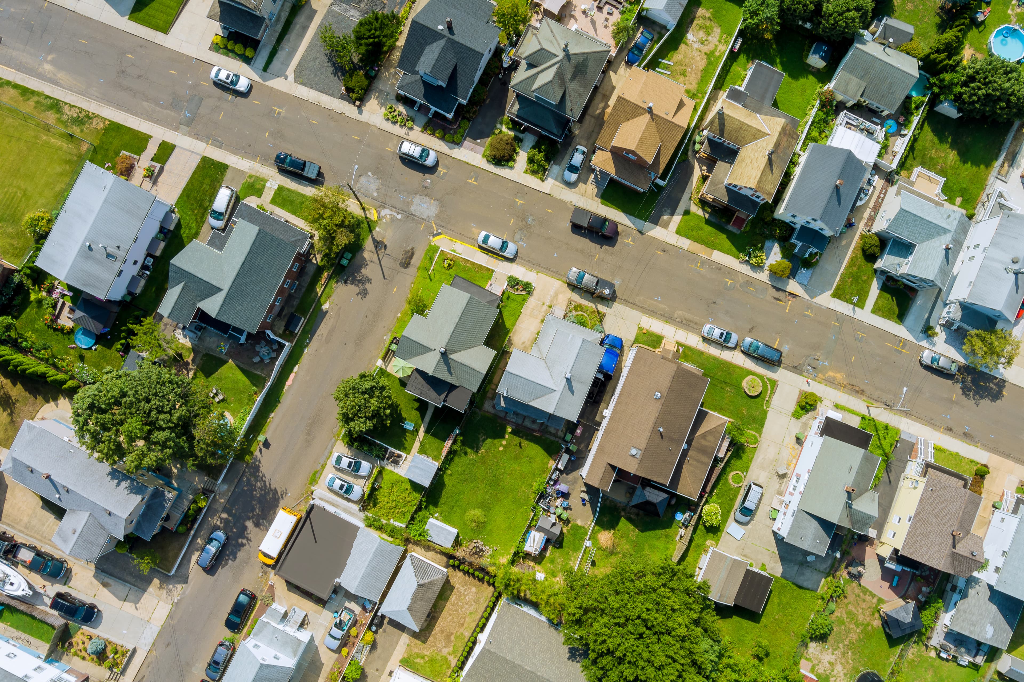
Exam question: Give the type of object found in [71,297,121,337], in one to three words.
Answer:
gazebo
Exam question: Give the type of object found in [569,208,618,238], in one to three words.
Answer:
truck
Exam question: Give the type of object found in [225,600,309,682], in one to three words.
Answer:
house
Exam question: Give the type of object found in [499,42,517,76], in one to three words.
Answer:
boat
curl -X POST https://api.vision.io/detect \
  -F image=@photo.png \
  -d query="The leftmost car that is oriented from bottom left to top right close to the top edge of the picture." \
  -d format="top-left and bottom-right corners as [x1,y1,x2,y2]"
[624,26,656,66]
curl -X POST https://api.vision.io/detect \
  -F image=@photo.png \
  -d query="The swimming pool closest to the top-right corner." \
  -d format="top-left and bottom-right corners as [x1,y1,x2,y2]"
[986,23,1024,59]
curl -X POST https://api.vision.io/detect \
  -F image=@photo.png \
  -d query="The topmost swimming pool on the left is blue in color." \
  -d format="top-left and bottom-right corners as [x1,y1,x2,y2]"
[73,326,100,349]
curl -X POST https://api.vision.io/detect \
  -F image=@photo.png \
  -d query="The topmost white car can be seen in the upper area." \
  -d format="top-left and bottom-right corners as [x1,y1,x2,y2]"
[208,66,253,93]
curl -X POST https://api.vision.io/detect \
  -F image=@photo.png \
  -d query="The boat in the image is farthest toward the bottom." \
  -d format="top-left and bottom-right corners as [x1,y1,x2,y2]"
[0,568,40,599]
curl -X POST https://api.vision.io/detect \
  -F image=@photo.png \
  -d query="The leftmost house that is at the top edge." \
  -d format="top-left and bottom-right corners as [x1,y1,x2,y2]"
[206,0,283,48]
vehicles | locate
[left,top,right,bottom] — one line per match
[624,26,656,66]
[917,349,960,375]
[739,338,785,366]
[569,208,618,238]
[7,542,69,577]
[730,479,765,522]
[274,148,323,177]
[324,605,355,649]
[476,231,518,258]
[329,451,373,477]
[46,590,99,625]
[844,222,857,227]
[565,267,616,298]
[225,587,257,632]
[700,321,738,345]
[564,143,589,186]
[257,504,303,567]
[205,638,235,681]
[323,472,365,499]
[207,183,239,229]
[588,330,627,399]
[195,529,230,572]
[396,140,438,168]
[208,66,253,93]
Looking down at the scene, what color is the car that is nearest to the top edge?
blue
